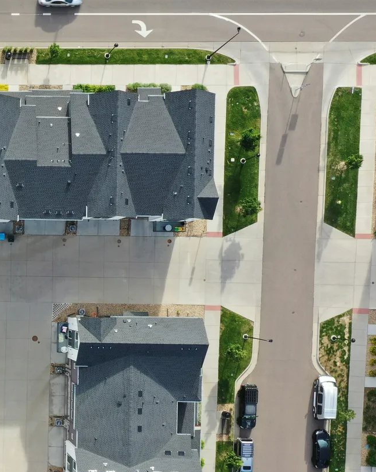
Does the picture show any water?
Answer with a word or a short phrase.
No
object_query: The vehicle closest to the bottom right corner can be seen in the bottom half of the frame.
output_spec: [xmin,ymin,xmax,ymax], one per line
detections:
[310,426,331,468]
